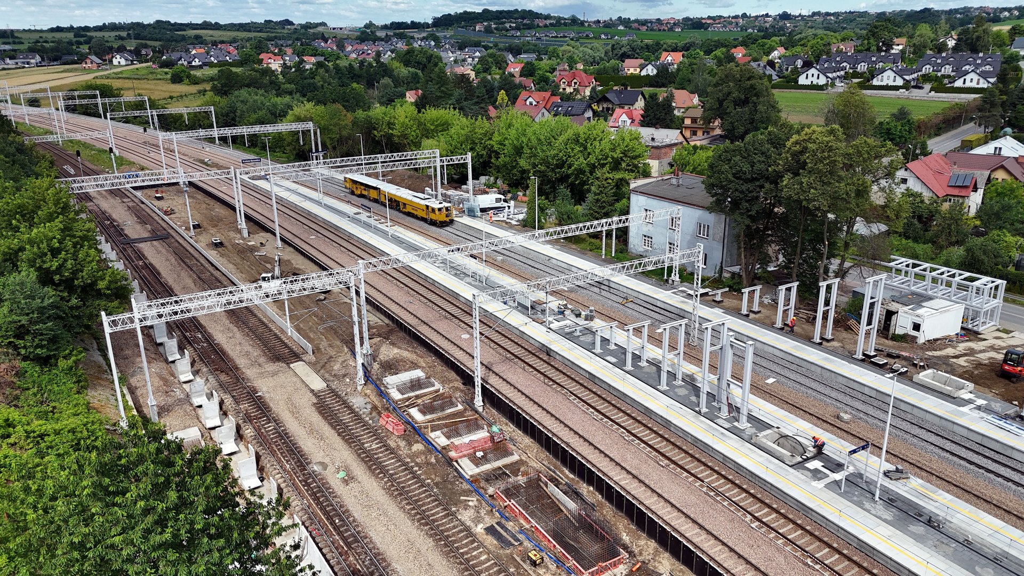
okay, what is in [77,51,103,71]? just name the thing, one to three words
house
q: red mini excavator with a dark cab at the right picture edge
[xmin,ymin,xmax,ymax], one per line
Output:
[995,350,1024,386]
